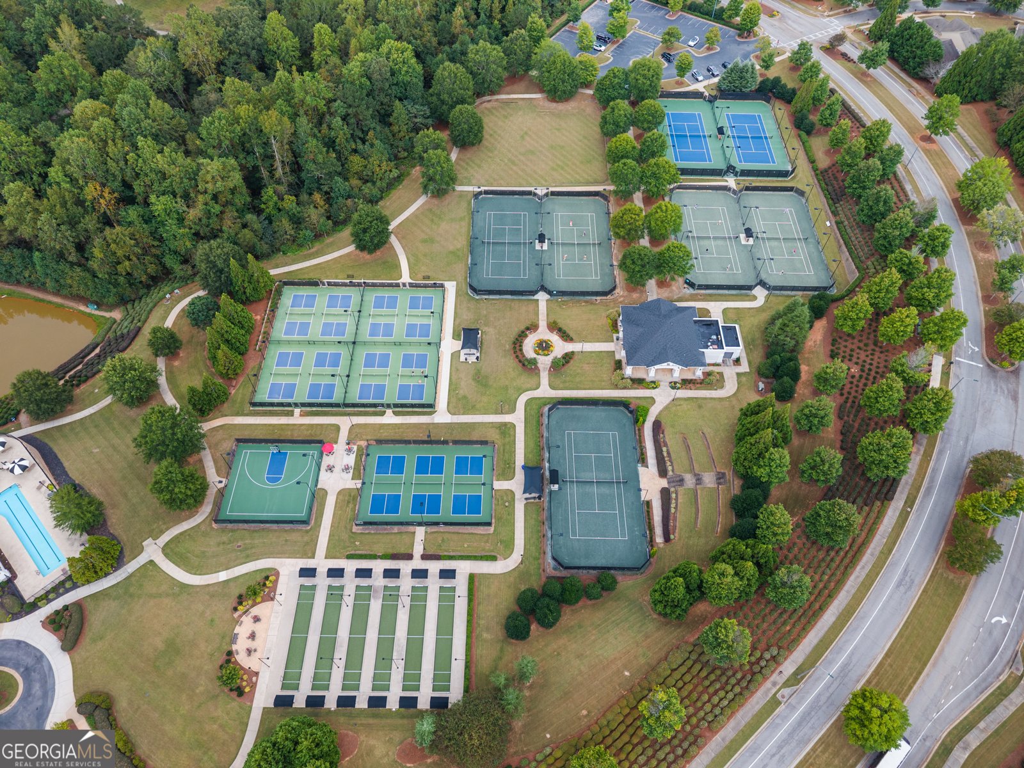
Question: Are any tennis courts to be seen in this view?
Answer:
Yes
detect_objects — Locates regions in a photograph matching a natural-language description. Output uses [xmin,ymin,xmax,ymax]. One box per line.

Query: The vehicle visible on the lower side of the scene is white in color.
[873,741,914,768]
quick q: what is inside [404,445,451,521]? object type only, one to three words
sports court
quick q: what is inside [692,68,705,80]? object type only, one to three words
vehicle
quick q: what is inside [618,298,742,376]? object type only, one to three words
building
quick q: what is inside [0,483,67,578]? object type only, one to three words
swimming pool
